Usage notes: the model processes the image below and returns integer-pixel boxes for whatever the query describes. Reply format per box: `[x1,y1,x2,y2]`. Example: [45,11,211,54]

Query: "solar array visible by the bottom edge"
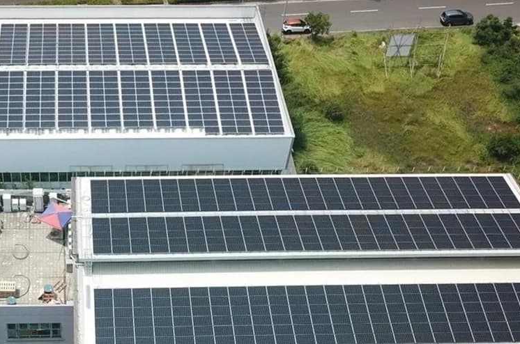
[94,283,520,344]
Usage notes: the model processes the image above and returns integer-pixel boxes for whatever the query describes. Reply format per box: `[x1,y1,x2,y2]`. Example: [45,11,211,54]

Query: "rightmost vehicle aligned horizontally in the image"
[439,7,473,23]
